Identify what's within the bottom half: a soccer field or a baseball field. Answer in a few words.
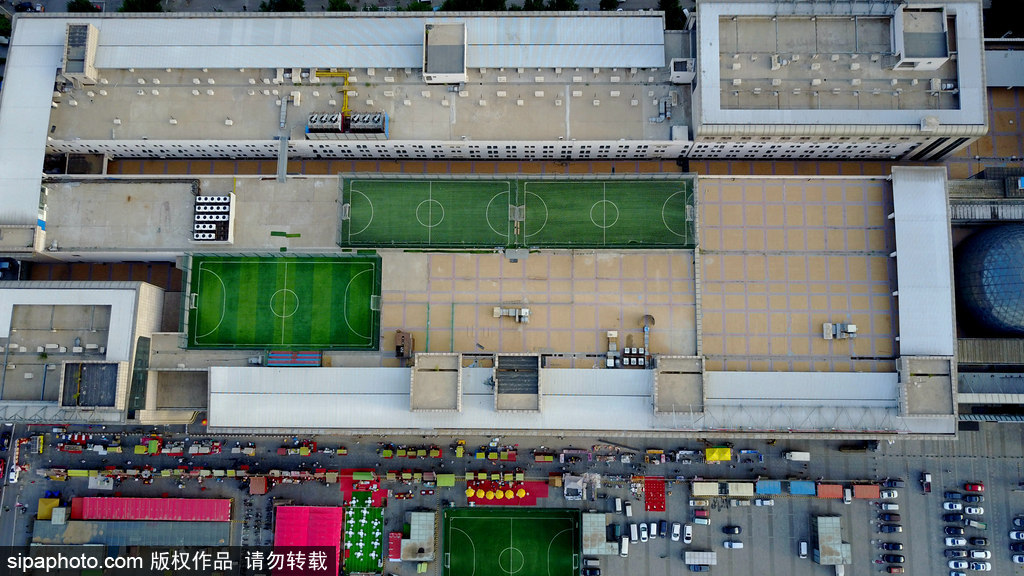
soccer field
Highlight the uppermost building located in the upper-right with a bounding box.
[681,0,989,157]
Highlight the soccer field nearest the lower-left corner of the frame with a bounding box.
[187,256,377,348]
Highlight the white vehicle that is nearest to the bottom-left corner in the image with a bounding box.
[7,464,20,484]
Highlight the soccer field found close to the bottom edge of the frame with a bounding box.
[444,510,580,576]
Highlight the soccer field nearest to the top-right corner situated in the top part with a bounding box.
[515,179,694,244]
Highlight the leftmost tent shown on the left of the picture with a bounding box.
[37,497,61,519]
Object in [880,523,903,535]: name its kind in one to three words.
vehicle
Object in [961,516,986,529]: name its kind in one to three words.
vehicle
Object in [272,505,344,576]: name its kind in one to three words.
tent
